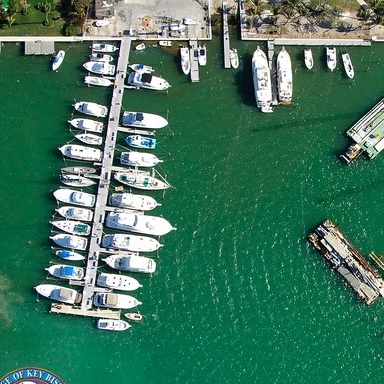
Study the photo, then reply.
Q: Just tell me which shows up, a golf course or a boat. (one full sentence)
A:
I can see a boat in this picture.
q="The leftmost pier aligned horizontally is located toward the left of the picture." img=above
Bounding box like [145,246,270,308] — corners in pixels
[25,42,54,55]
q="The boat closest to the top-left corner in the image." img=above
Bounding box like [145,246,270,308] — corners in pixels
[53,49,65,70]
